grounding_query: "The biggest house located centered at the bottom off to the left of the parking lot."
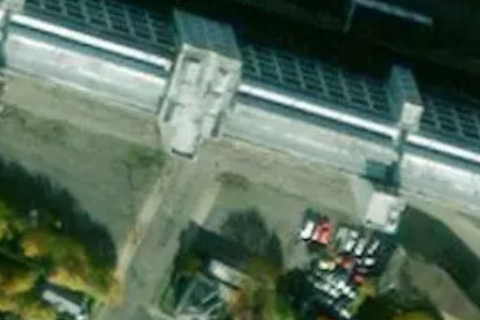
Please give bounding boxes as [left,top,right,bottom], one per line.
[168,263,228,315]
